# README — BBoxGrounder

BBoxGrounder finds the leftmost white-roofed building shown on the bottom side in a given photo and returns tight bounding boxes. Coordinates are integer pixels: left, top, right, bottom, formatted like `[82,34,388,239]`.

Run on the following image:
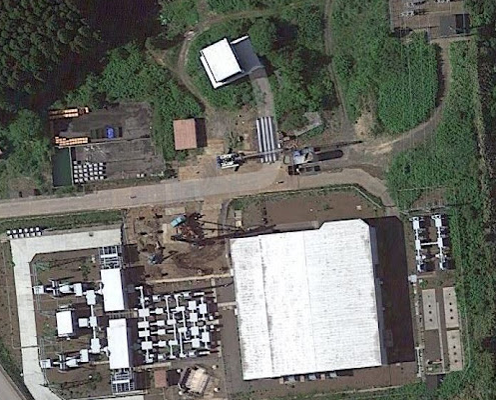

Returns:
[56,305,75,340]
